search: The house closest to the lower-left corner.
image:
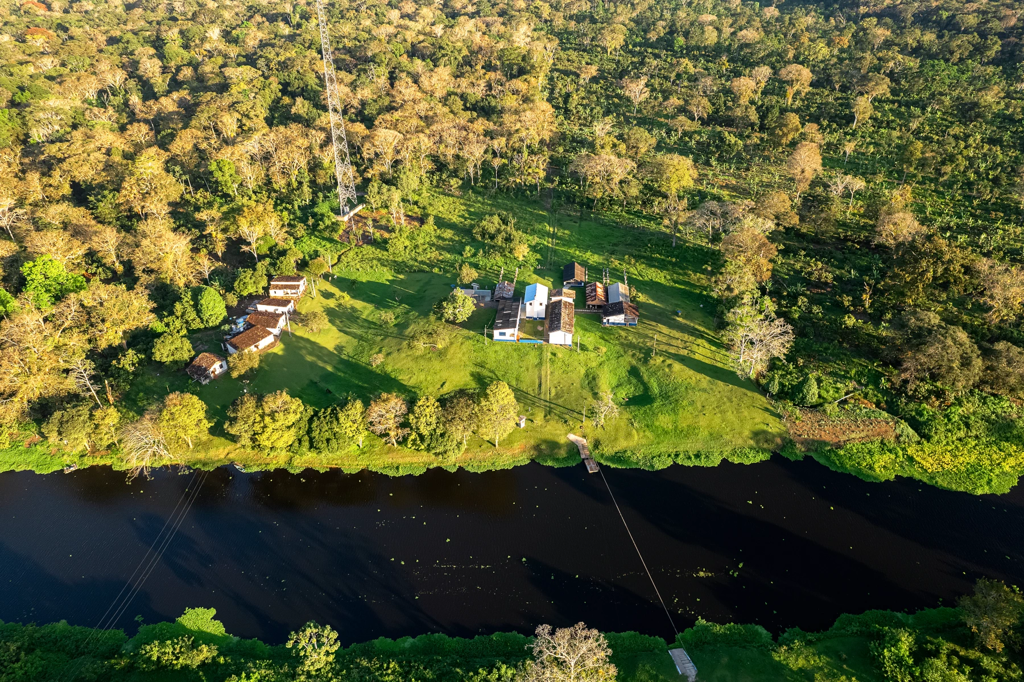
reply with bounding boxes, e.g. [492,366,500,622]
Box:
[181,354,225,386]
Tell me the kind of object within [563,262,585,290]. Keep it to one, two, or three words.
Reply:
house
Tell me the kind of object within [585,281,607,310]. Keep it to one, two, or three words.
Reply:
shed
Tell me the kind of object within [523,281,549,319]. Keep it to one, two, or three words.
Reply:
house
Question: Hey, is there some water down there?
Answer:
Yes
